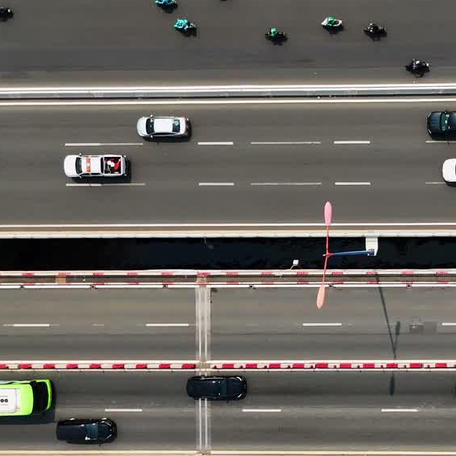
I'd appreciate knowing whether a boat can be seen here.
No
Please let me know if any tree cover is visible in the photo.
No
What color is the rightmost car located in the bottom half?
black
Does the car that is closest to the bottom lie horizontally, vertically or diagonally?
horizontally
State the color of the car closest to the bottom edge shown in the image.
black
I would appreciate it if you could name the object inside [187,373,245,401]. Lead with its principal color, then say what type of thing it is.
black car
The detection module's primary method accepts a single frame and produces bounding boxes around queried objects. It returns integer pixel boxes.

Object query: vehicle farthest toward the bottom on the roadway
[56,415,117,443]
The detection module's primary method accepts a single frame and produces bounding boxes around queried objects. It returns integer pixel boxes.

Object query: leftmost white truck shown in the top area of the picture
[65,152,130,179]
